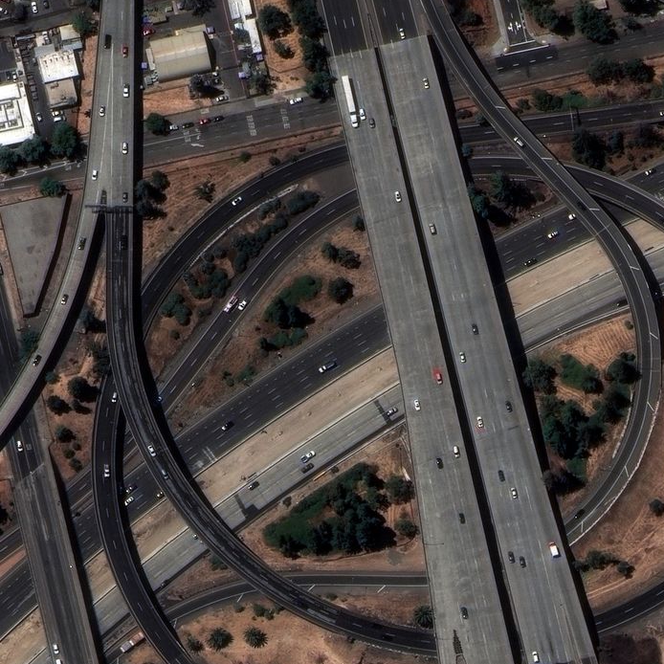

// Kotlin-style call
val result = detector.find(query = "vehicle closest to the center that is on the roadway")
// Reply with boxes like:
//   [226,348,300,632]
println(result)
[317,359,336,373]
